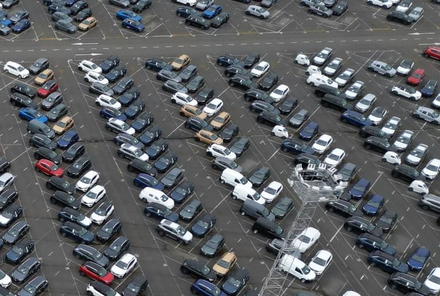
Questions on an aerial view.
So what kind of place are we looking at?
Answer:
parking lot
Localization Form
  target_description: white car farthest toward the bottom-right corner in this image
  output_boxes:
[422,268,440,296]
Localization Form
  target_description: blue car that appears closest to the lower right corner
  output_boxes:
[405,245,431,273]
